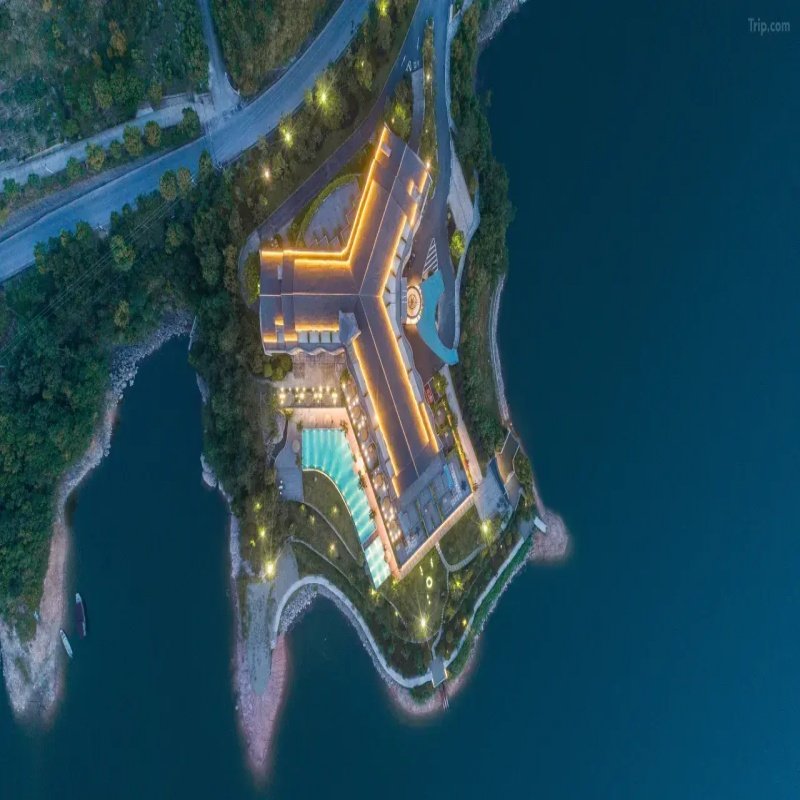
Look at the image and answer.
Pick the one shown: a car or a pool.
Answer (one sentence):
There is a pool in the scene.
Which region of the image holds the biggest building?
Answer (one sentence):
The biggest building sits in the center section of the image.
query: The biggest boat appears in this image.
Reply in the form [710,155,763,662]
[74,592,87,641]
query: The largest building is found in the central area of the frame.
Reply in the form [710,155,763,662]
[258,127,475,571]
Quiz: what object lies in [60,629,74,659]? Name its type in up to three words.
boat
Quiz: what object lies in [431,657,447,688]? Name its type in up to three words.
building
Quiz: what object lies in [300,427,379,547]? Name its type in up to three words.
swimming pool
